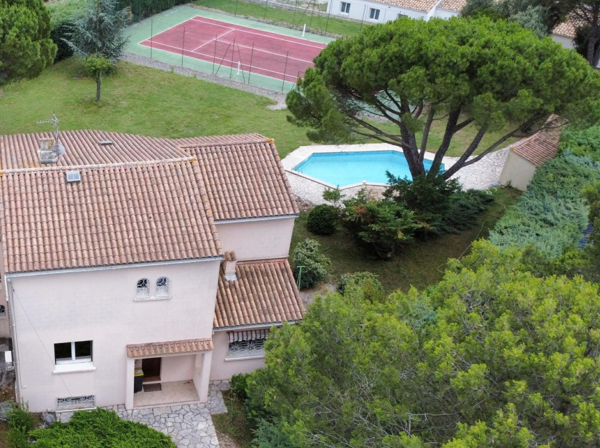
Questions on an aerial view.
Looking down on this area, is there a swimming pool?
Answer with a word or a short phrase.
Yes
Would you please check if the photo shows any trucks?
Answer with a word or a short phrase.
No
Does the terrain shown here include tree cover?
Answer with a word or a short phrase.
Yes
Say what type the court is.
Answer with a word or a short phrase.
tennis court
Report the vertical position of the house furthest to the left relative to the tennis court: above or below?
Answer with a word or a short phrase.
below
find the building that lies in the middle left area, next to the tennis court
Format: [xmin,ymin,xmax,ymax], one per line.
[0,129,306,412]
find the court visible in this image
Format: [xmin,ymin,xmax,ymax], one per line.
[111,3,487,131]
